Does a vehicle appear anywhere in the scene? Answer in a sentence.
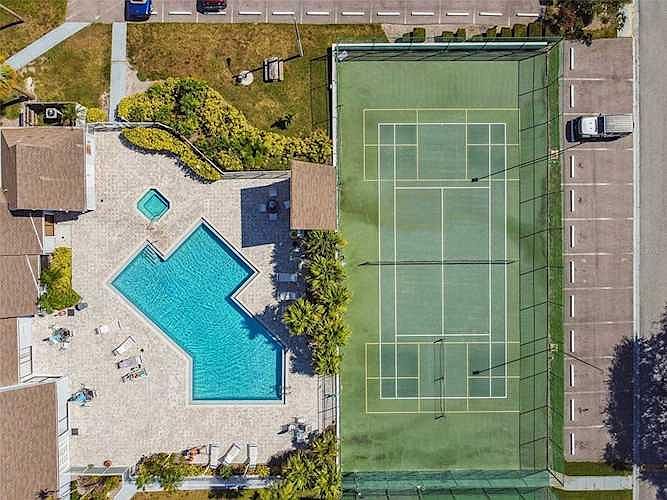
Yes, a vehicle can be made out from above.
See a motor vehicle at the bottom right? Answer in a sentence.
No, I see no motor vehicle at the bottom right.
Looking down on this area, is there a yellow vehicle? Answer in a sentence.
No, no yellow vehicle can be seen from above.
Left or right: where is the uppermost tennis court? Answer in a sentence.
The uppermost tennis court is on the right side of the image.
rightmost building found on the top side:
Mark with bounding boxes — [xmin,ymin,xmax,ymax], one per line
[290,160,335,230]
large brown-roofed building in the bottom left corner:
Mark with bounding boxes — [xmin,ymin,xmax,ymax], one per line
[0,376,68,500]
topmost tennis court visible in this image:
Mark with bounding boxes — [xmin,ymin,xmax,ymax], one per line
[337,45,549,469]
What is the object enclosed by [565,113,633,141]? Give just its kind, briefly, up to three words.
truck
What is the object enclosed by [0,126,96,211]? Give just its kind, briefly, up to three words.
building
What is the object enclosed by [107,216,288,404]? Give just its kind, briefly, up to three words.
swimming pool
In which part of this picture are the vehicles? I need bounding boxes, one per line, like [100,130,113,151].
[205,0,227,10]
[132,0,157,19]
[565,113,633,141]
